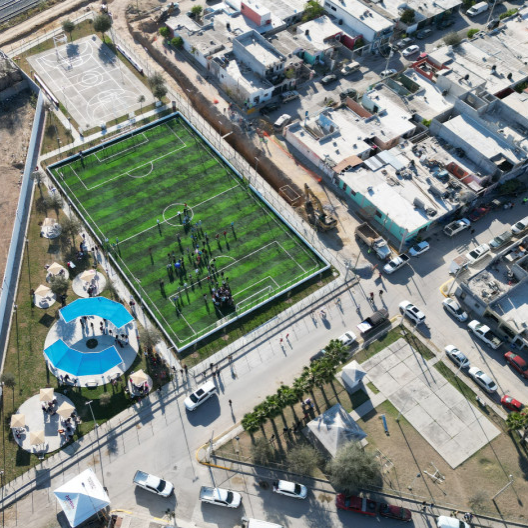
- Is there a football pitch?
Yes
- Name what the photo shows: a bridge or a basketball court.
basketball court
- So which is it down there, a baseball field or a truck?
truck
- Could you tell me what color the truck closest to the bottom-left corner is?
white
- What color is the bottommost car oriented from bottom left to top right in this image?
white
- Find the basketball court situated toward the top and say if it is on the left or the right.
left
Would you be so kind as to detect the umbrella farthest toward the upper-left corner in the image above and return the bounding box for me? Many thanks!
[43,217,58,230]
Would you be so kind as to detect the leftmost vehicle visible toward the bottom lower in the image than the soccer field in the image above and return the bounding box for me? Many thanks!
[132,467,177,499]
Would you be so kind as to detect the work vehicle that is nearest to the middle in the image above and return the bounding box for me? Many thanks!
[296,181,335,228]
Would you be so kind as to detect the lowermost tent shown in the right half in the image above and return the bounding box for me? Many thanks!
[307,403,367,462]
